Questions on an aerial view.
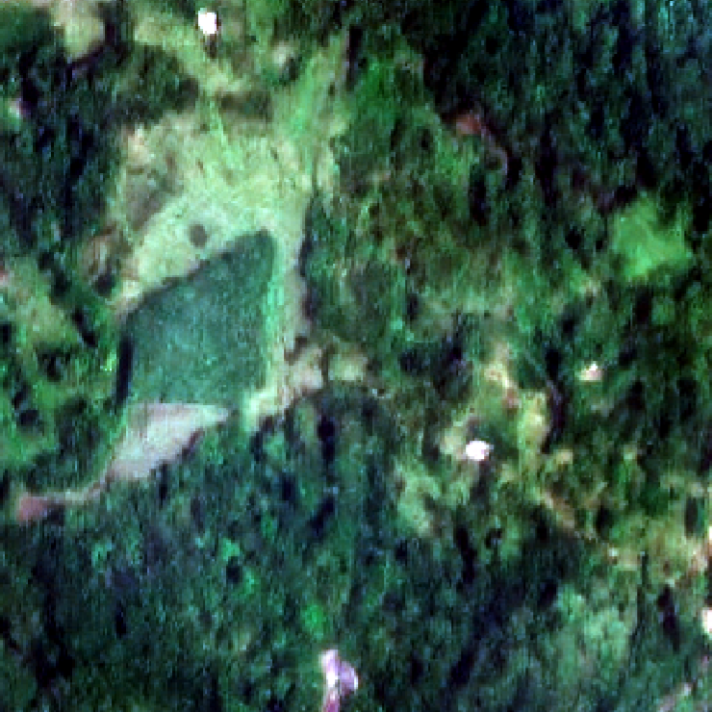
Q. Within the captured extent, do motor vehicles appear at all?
No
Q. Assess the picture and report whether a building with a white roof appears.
Yes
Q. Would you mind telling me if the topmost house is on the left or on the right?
left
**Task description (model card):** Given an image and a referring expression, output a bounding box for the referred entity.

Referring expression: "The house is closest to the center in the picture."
[464,440,487,460]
